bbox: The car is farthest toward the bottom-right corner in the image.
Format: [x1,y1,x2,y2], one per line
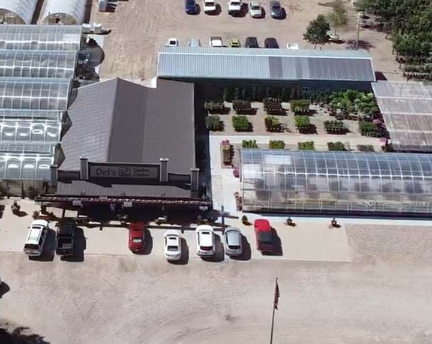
[253,216,274,248]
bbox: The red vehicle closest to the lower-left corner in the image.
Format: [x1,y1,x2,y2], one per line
[126,218,147,252]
